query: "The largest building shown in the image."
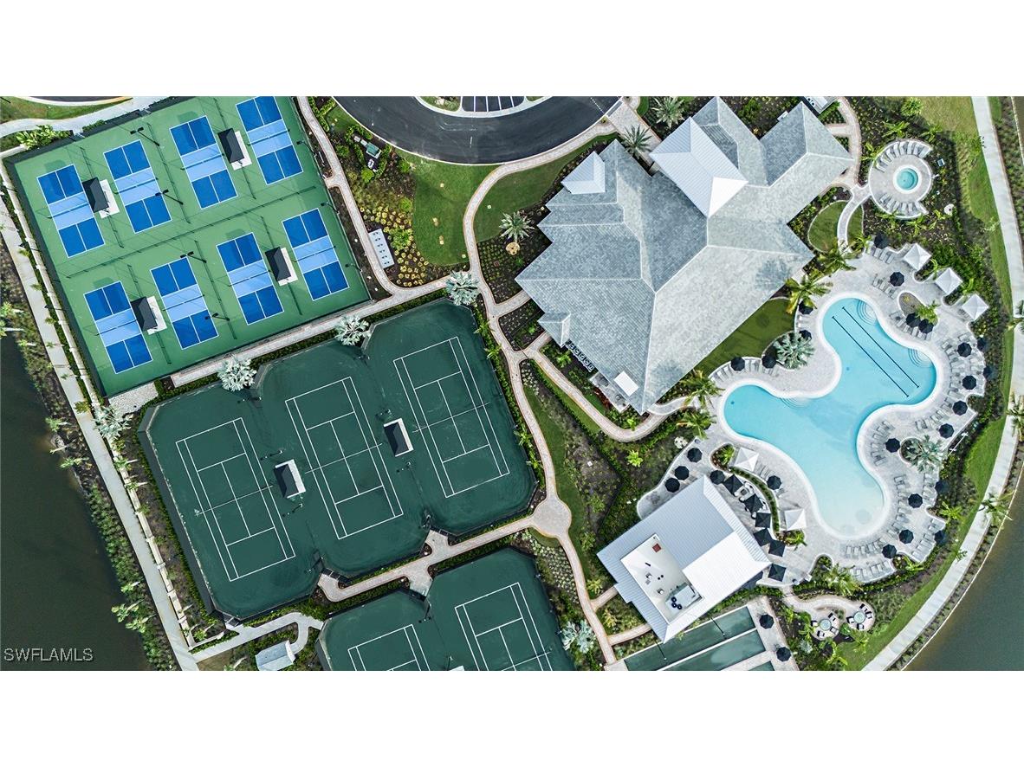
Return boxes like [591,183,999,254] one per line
[515,96,855,415]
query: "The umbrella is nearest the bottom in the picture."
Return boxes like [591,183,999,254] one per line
[775,645,791,661]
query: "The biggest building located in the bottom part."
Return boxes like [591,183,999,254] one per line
[597,475,772,643]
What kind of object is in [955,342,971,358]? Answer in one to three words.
umbrella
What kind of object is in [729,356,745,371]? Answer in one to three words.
umbrella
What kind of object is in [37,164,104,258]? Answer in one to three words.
sports court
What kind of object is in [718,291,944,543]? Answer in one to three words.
swimming pool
